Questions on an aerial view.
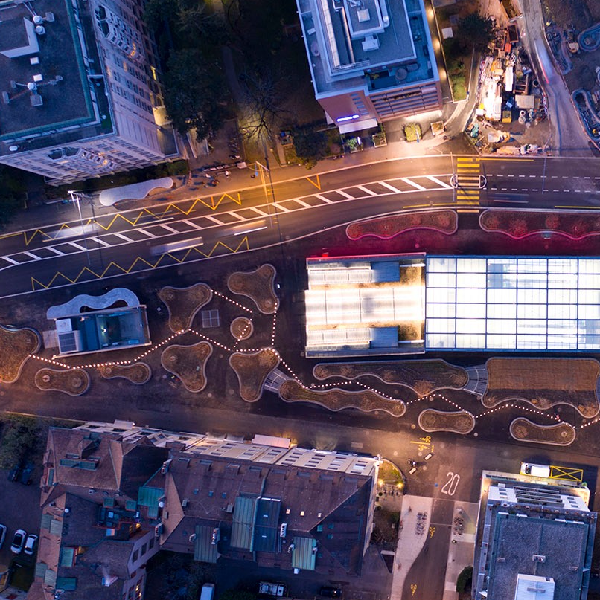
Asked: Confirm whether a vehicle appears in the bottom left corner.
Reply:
Yes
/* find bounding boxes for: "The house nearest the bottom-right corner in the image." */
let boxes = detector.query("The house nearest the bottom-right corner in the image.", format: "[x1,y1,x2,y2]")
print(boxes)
[472,466,598,600]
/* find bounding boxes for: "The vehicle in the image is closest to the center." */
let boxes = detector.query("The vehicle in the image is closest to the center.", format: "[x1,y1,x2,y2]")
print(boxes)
[235,219,264,236]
